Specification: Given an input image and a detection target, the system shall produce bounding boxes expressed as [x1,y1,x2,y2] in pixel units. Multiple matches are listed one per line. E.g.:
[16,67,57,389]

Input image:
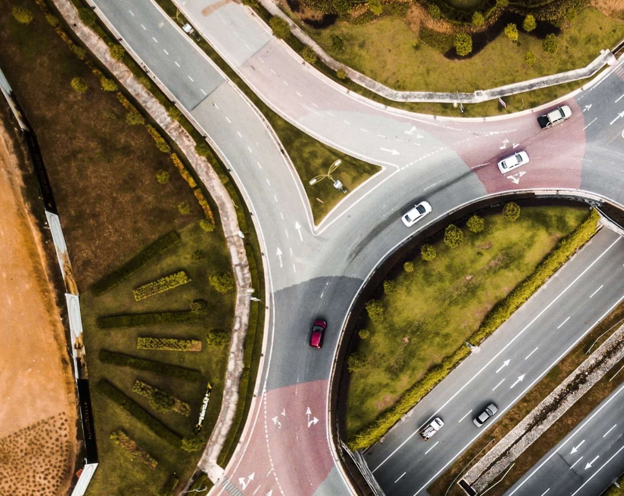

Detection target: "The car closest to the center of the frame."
[310,319,326,349]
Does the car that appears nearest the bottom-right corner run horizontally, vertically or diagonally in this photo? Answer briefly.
diagonally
